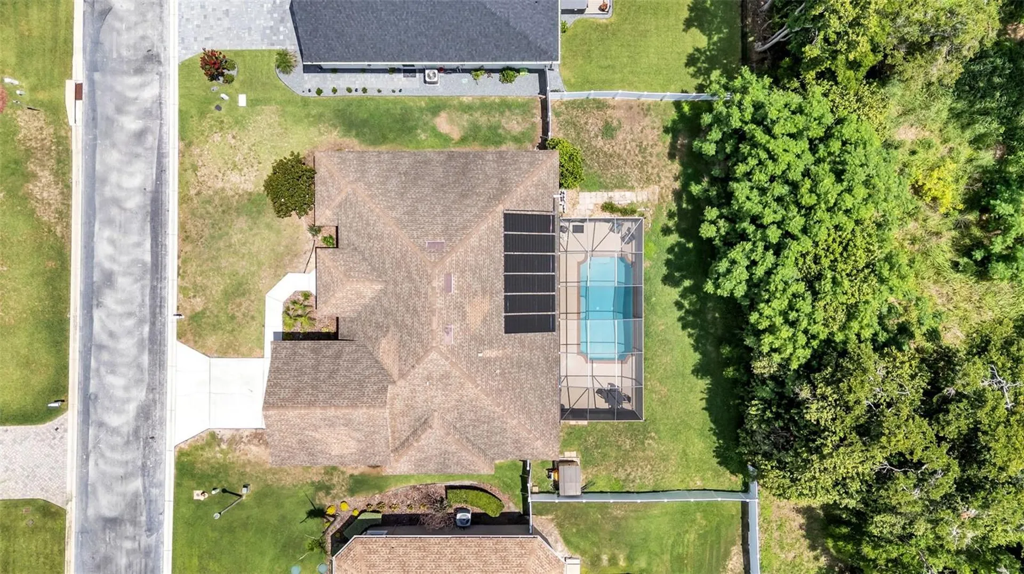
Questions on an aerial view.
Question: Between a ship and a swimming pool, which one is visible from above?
swimming pool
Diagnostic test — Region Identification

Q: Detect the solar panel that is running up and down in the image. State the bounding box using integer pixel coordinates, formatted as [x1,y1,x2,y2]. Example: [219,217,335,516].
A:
[503,198,555,334]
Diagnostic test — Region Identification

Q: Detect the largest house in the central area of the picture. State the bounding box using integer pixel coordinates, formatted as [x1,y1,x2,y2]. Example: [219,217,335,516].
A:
[262,149,563,475]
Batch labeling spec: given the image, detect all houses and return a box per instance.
[262,149,563,475]
[331,528,580,574]
[291,0,560,69]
